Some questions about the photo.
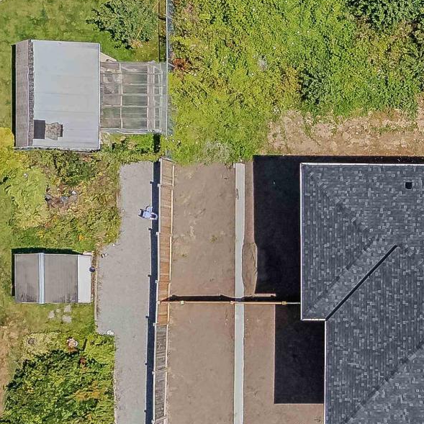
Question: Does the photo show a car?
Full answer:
No, I can see no car in this picture.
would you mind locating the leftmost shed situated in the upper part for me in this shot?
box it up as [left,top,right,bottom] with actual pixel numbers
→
[15,37,116,155]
